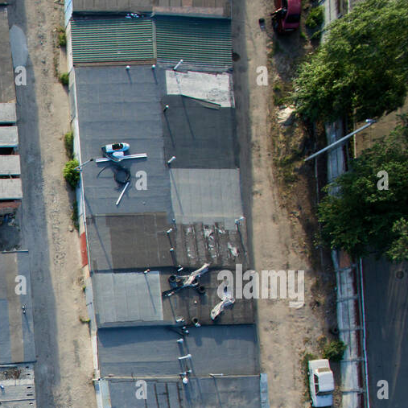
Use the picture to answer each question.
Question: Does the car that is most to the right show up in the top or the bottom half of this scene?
bottom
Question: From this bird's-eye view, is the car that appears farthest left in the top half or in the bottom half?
top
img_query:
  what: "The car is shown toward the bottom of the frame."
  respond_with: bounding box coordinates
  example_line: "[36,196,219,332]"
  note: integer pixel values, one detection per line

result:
[304,357,336,408]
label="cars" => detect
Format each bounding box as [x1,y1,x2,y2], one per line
[267,0,304,33]
[304,357,336,408]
